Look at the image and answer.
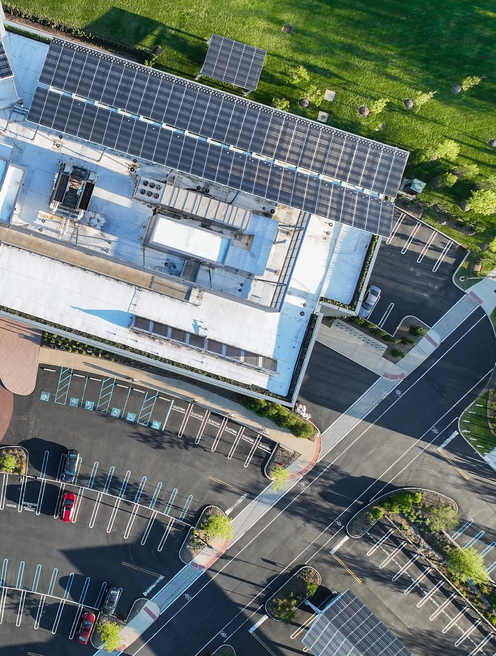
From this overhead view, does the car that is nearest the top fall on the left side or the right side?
right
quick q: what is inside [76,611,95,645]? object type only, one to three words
car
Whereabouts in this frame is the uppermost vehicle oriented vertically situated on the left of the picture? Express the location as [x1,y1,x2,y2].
[61,448,79,483]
